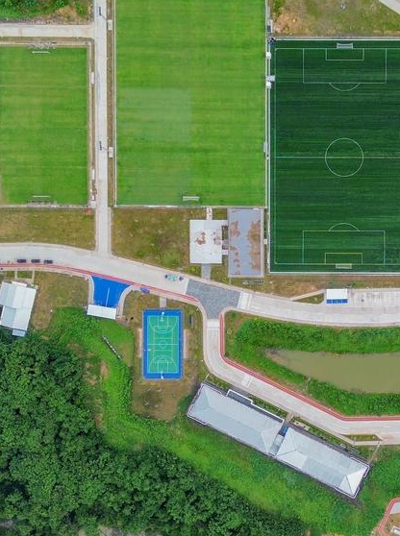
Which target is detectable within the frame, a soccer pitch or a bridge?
soccer pitch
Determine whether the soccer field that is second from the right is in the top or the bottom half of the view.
top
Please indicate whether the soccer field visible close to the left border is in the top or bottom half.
top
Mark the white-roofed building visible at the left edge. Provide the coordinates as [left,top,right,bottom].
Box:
[0,281,38,337]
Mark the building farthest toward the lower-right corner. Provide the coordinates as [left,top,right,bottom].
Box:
[276,426,371,500]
